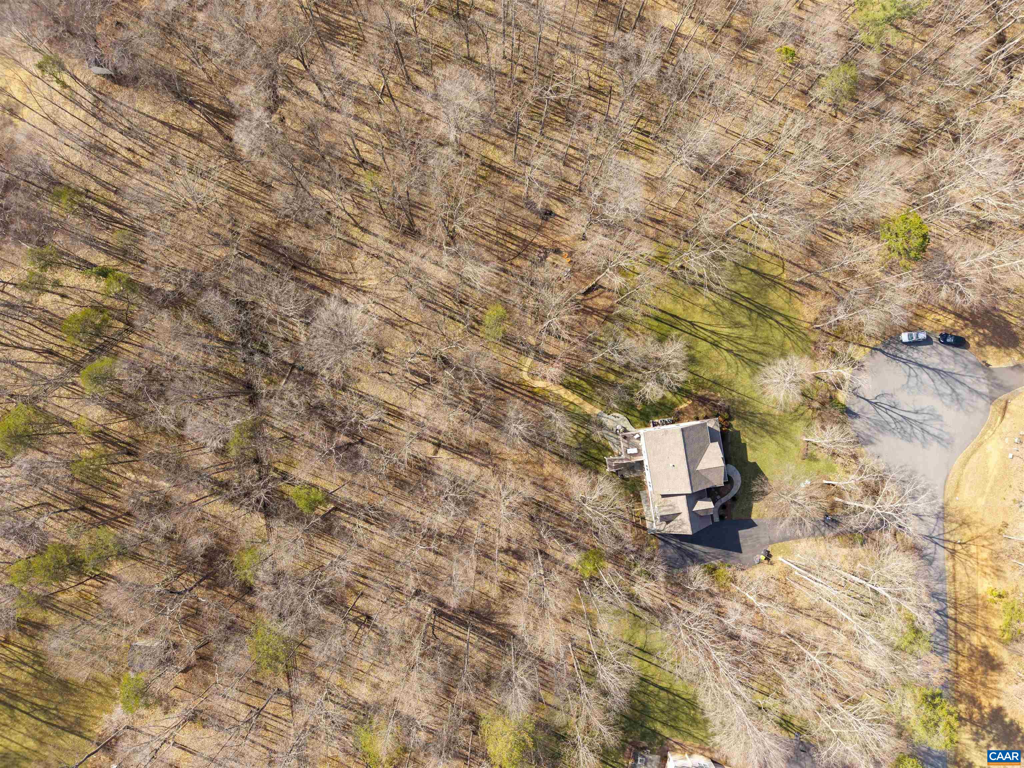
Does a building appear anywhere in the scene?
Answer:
Yes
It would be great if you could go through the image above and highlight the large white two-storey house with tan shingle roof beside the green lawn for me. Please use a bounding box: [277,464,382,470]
[604,417,729,535]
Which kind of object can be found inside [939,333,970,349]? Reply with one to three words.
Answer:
car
